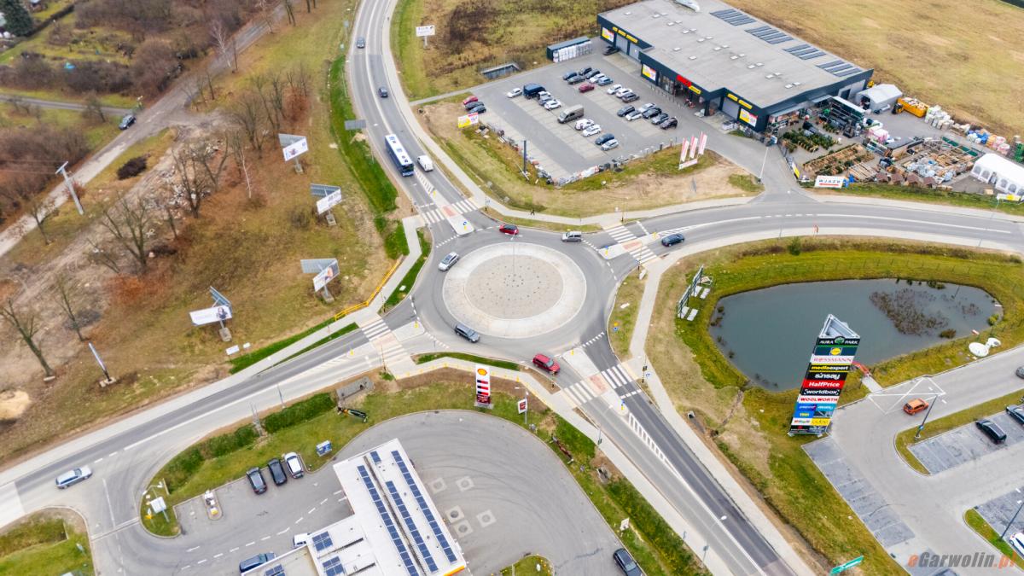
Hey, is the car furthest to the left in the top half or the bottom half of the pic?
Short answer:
bottom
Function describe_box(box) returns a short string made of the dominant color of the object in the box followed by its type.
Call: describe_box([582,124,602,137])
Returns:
white vehicle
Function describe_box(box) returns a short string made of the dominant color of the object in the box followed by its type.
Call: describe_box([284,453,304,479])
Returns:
white car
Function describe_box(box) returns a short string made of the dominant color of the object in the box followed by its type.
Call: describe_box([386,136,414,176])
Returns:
white bus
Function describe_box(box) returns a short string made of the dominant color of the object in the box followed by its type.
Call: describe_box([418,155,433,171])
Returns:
white vehicle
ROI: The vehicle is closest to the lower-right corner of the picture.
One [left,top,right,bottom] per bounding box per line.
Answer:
[1002,528,1024,560]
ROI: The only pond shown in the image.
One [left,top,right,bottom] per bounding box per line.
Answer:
[630,227,1024,576]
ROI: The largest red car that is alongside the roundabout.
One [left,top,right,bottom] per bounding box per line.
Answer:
[530,355,560,374]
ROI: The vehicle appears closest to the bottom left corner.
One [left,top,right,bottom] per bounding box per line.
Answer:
[53,467,93,490]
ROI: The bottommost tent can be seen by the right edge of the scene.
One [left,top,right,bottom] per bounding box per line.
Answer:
[972,155,1024,202]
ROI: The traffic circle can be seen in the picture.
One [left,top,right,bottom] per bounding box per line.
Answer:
[417,229,613,354]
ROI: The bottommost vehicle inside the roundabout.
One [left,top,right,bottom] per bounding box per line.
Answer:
[452,322,481,342]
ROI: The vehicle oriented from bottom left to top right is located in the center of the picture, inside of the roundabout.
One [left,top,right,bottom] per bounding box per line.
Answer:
[436,252,461,270]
